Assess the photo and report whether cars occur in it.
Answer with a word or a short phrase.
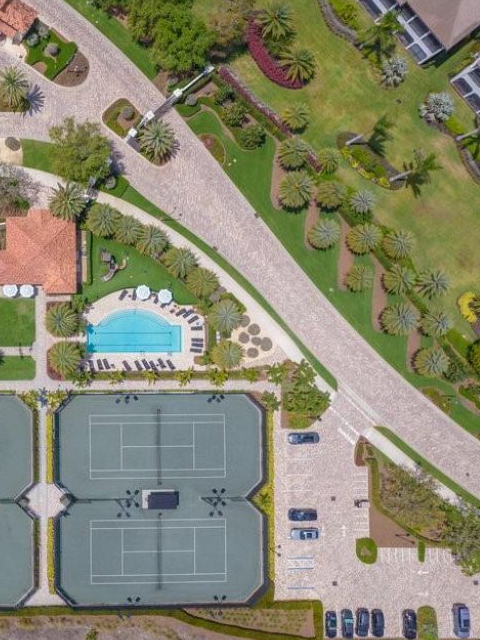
Yes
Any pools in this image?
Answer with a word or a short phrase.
Yes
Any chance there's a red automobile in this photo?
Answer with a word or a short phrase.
No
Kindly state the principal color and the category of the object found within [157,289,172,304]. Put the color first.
white umbrella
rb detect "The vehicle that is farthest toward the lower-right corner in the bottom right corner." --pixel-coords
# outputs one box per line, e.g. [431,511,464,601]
[452,604,471,639]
